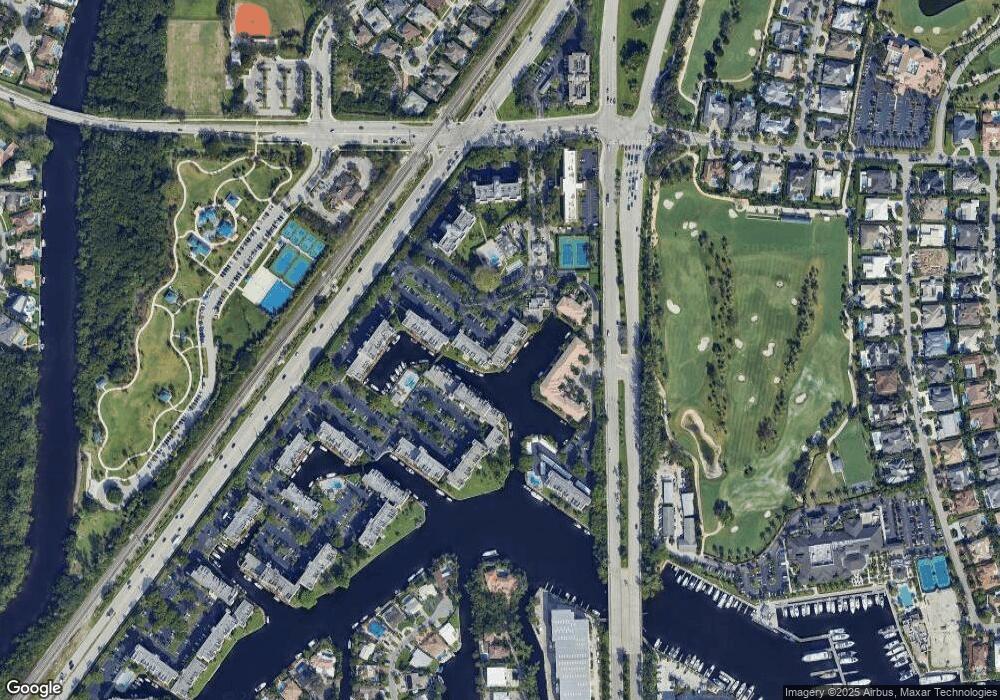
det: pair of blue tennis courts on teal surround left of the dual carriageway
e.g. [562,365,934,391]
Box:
[559,235,590,268]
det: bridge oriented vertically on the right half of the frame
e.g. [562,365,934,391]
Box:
[607,566,644,655]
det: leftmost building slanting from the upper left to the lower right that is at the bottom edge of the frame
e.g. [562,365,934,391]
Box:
[131,645,178,686]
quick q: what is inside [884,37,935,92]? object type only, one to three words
building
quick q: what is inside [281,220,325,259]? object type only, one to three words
tennis court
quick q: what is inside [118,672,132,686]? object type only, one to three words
swimming pool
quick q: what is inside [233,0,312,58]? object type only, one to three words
baseball field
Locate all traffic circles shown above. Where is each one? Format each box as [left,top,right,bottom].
[96,475,130,509]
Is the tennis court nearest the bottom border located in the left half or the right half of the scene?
right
